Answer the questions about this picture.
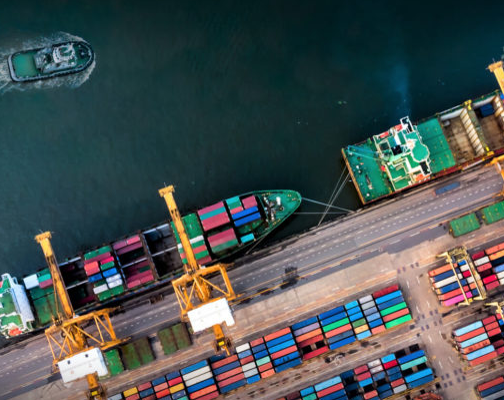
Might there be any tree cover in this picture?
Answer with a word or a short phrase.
No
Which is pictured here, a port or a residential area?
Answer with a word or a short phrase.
port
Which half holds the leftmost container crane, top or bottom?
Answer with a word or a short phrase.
bottom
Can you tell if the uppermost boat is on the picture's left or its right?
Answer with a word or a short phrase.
left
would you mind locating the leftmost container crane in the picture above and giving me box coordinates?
[35,229,140,400]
